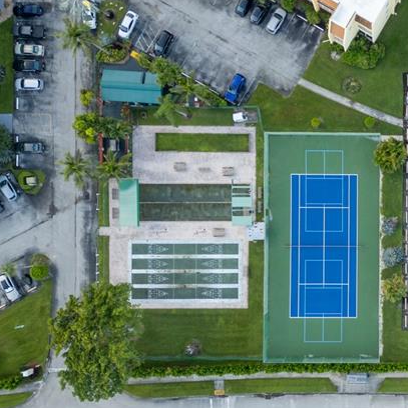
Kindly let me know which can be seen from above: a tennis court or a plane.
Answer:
tennis court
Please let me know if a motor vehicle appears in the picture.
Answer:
Yes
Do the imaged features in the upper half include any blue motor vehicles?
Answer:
Yes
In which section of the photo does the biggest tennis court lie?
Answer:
right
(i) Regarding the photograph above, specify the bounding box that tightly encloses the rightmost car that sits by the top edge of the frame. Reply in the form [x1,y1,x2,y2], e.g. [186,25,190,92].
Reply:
[266,8,286,36]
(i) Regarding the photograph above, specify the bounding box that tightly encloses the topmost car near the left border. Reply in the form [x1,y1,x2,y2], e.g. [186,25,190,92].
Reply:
[14,2,45,18]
